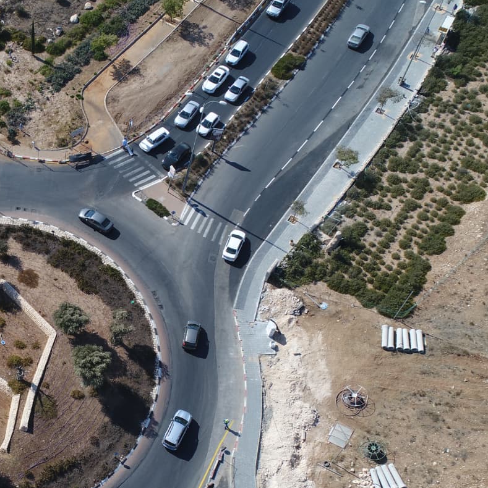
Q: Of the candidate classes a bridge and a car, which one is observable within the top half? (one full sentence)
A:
The feature located within the top half is a car.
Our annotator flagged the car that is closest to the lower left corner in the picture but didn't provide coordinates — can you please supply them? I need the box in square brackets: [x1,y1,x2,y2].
[161,409,191,454]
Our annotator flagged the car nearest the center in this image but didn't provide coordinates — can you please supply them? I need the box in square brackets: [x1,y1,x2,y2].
[220,230,245,265]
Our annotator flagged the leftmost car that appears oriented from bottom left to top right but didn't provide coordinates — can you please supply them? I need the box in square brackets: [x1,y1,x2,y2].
[137,125,173,153]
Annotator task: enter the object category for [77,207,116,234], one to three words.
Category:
car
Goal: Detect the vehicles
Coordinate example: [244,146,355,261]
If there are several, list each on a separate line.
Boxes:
[180,320,203,356]
[161,409,191,454]
[172,97,202,130]
[345,23,372,52]
[137,125,173,153]
[77,207,116,234]
[159,139,194,172]
[220,230,245,265]
[224,38,252,67]
[201,65,232,96]
[223,73,252,105]
[265,0,291,17]
[195,109,224,139]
